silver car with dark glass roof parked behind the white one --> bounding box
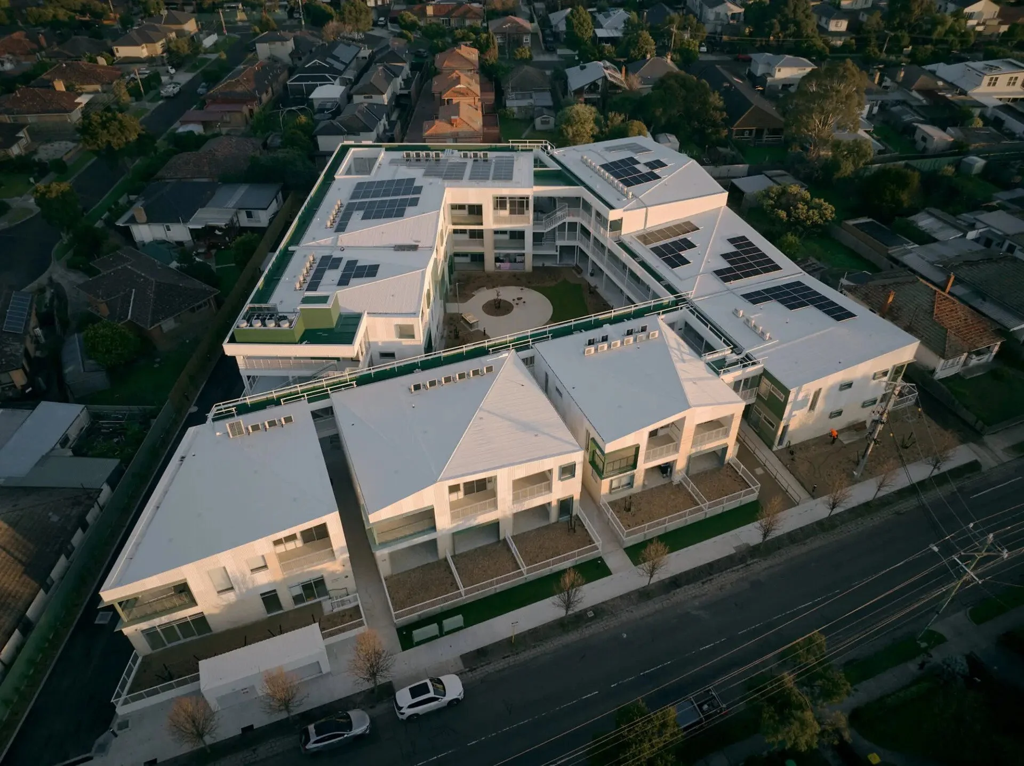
[298,711,372,763]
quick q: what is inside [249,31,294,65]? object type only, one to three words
house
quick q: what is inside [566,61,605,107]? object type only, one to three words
shed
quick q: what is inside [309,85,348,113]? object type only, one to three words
house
